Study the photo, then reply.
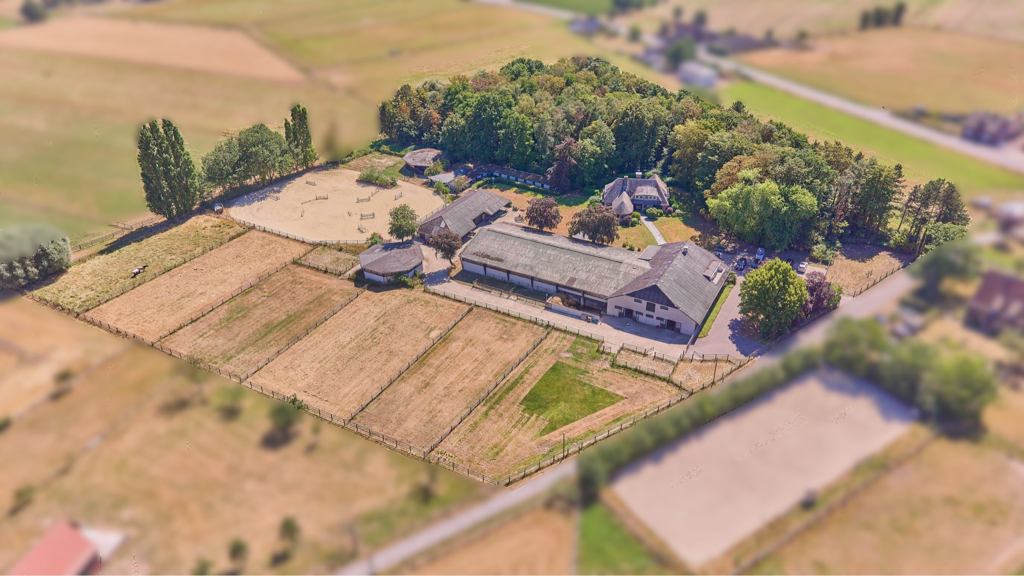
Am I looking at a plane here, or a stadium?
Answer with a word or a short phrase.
stadium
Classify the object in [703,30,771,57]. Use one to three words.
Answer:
shed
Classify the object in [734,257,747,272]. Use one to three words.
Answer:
vehicle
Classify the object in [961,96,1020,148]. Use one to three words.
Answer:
house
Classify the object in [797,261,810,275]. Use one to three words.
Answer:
vehicle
